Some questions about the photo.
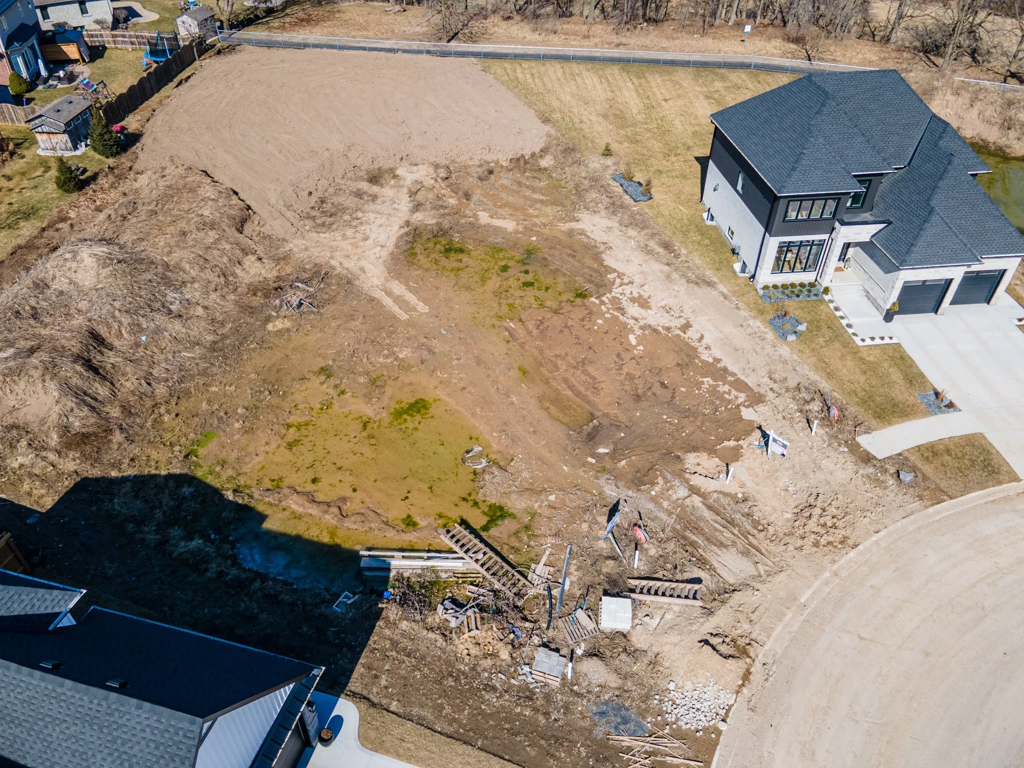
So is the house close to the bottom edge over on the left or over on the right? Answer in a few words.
left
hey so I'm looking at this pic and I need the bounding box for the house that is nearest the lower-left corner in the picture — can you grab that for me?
[0,565,330,768]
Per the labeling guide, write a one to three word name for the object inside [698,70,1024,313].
house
